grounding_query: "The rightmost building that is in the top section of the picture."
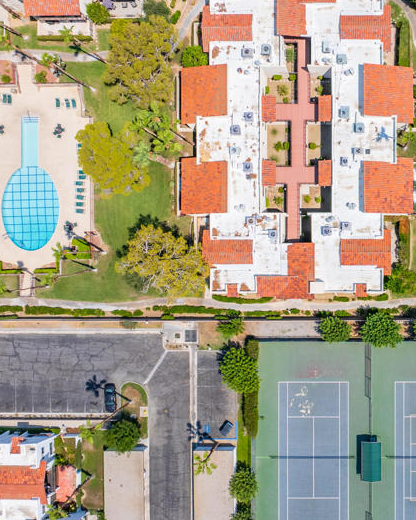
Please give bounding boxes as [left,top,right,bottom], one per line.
[181,0,414,298]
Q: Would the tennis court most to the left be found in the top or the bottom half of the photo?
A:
bottom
